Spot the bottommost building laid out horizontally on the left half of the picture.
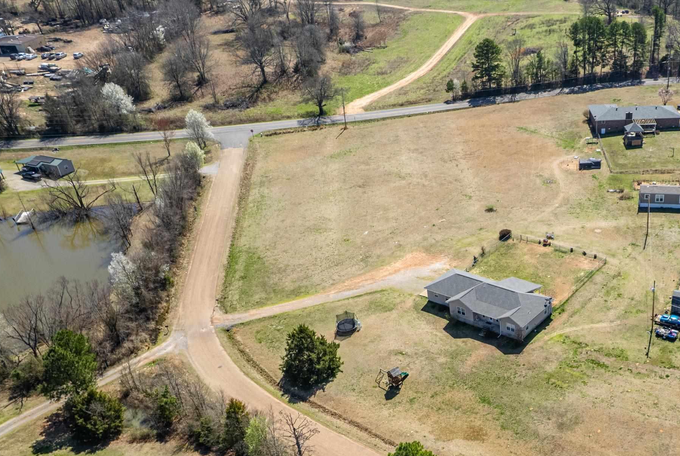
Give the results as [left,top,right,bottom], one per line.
[5,155,71,180]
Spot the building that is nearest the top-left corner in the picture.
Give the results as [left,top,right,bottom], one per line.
[0,28,45,54]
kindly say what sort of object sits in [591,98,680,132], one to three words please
house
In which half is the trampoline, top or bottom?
bottom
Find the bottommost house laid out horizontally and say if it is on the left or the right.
right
